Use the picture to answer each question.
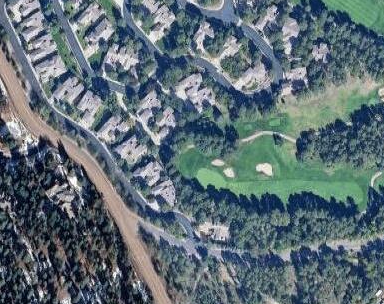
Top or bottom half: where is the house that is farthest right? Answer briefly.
top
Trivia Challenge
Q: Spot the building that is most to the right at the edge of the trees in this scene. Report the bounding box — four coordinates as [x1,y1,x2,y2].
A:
[308,41,329,64]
